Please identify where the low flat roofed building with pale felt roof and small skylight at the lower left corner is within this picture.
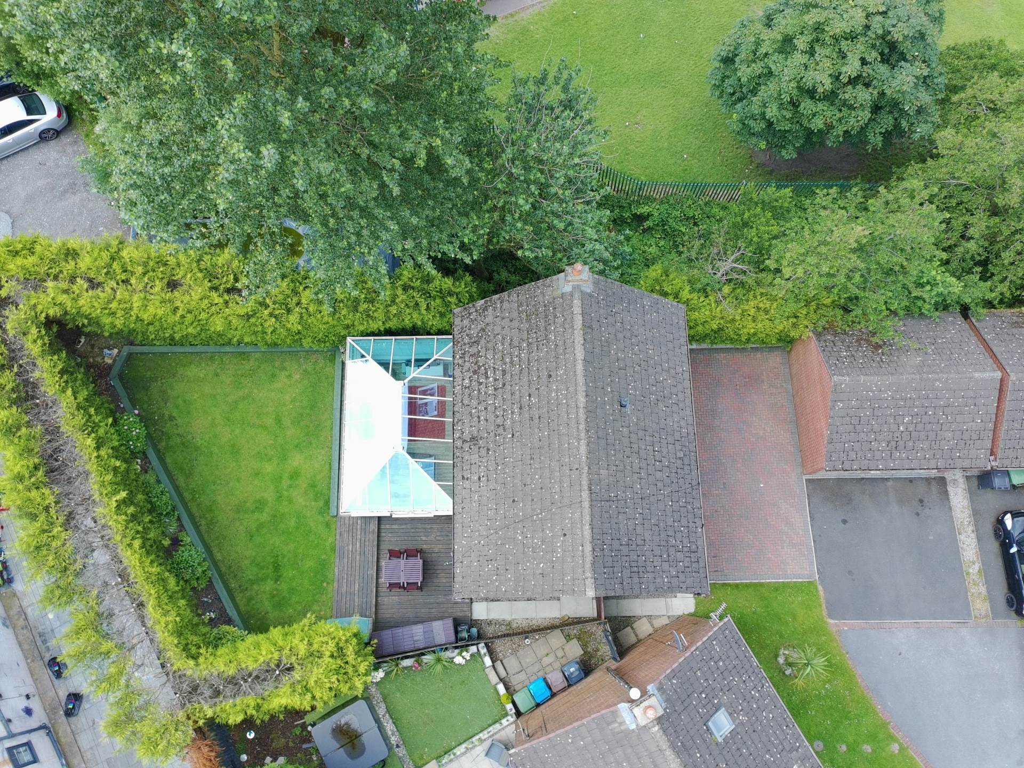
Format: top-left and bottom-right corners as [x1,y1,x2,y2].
[0,592,88,768]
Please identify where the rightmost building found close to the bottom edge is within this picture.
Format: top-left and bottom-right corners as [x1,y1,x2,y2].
[506,608,831,768]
